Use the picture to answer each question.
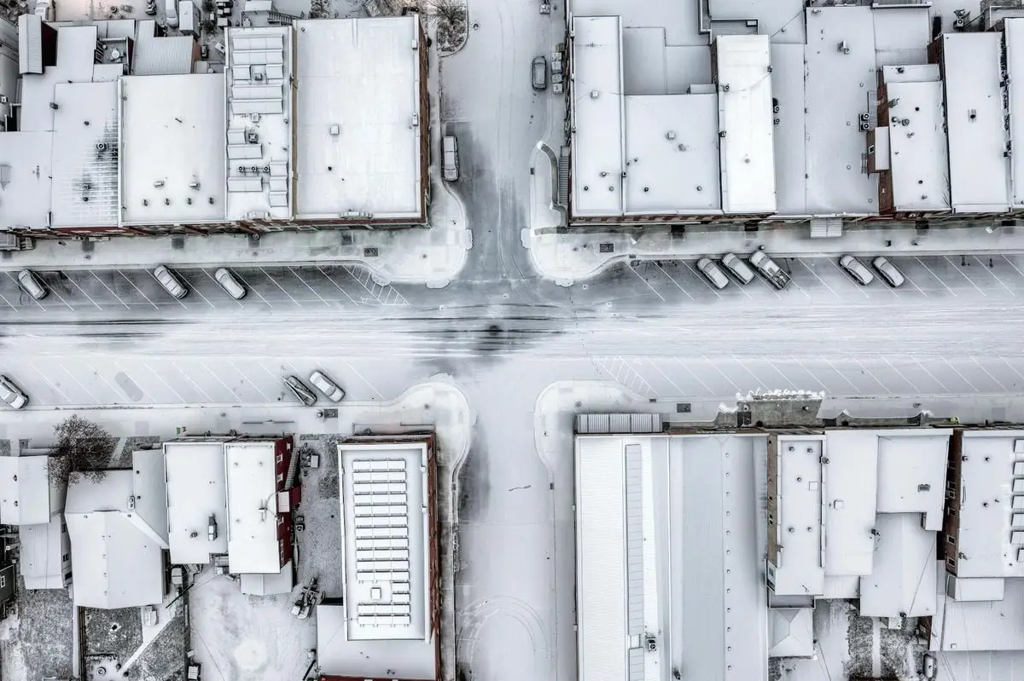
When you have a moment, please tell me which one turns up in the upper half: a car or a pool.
car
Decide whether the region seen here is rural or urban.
urban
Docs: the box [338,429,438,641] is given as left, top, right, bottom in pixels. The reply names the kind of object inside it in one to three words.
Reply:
building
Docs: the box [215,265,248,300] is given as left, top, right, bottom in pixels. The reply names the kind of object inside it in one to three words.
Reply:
car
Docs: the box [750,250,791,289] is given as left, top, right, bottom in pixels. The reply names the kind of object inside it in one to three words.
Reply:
truck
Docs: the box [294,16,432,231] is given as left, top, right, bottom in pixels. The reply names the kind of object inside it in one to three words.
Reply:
building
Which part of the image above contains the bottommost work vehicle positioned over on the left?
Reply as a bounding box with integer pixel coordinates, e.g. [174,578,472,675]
[291,586,313,616]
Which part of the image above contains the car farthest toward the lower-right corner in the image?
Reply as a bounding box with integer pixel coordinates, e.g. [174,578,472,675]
[920,652,938,679]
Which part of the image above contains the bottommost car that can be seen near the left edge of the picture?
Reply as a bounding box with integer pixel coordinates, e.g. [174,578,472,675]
[0,373,30,408]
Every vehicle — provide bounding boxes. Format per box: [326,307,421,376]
[838,254,873,287]
[441,136,459,182]
[161,0,181,29]
[531,55,547,92]
[154,263,190,300]
[0,373,30,408]
[291,586,313,616]
[920,652,938,679]
[144,0,161,17]
[310,370,345,403]
[19,267,50,301]
[215,265,248,300]
[721,252,755,286]
[288,376,318,407]
[697,256,728,290]
[750,250,791,289]
[870,255,905,289]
